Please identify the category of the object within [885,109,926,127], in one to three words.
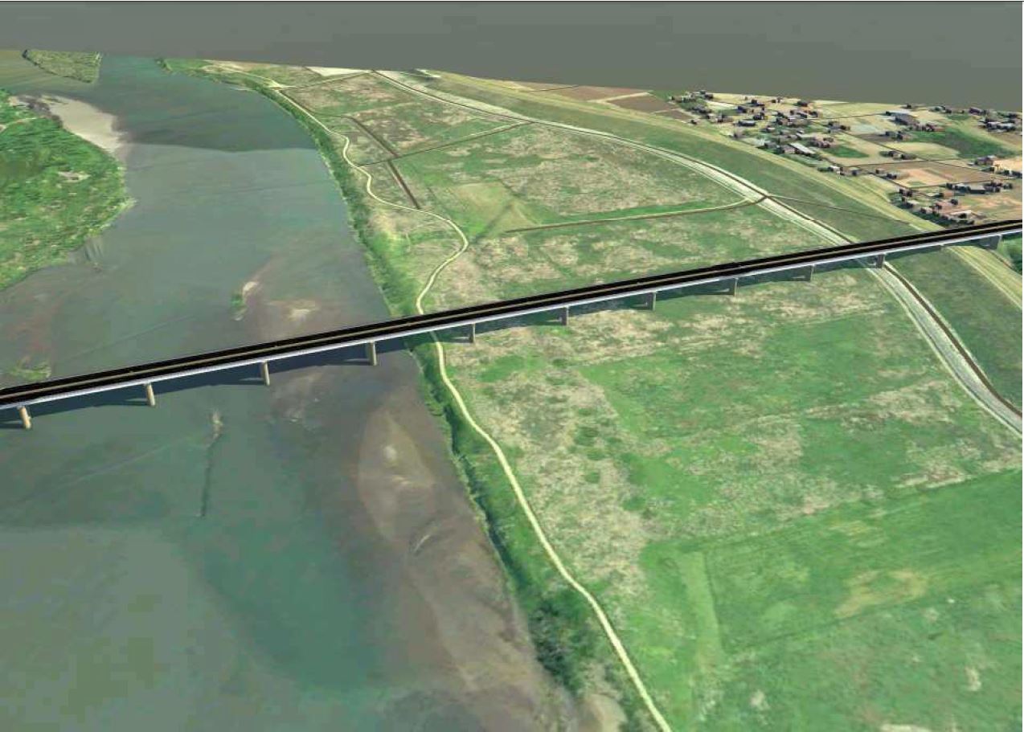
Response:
barn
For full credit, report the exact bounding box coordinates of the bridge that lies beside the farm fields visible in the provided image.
[0,219,1024,429]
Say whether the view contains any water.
Yes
